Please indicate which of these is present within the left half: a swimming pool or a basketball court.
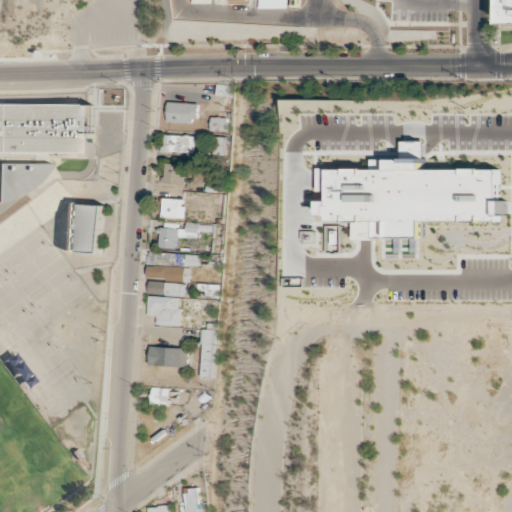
basketball court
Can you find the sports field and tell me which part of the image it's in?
bottom left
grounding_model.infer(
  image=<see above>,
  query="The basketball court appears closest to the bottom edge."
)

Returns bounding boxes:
[22,331,68,376]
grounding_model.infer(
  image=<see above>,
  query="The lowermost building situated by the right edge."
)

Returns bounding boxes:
[311,141,510,240]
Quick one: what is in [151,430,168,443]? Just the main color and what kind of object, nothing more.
white vehicle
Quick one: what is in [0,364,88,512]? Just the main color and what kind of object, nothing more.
green sports field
